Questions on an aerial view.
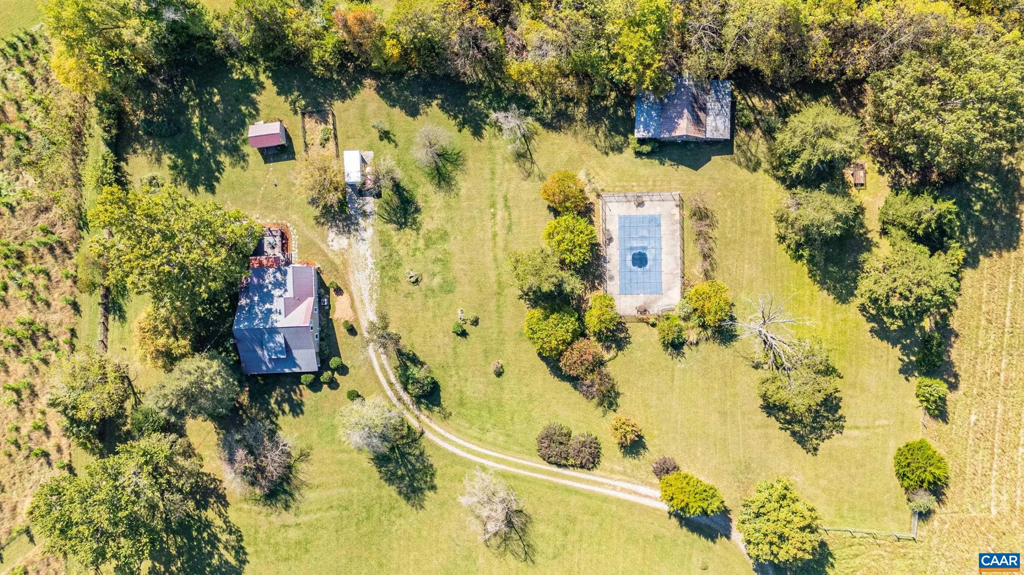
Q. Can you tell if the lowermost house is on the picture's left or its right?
left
